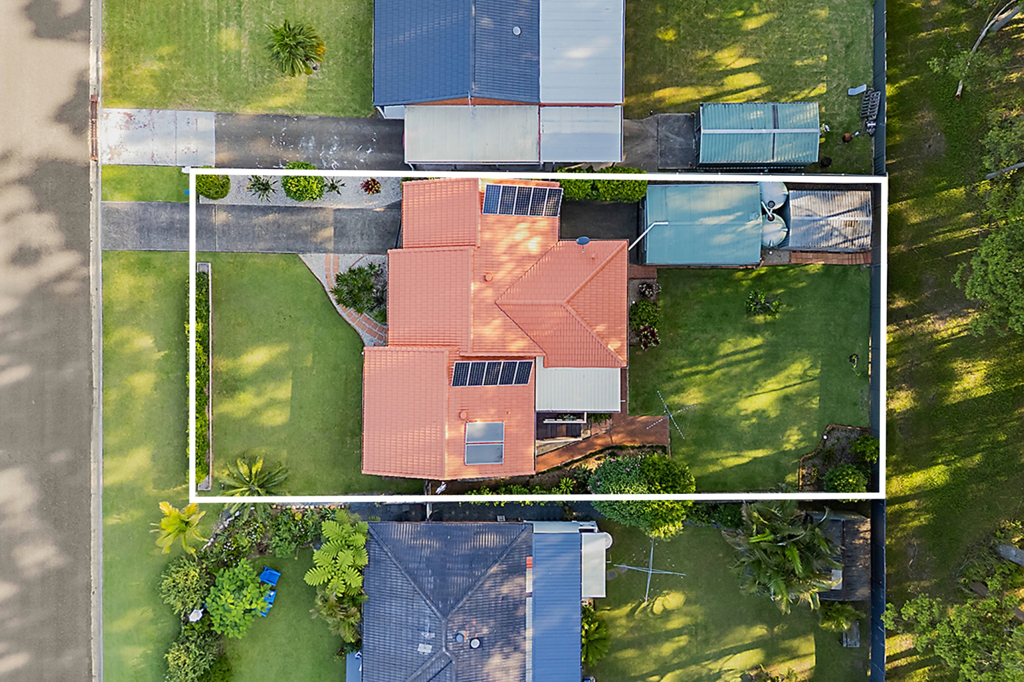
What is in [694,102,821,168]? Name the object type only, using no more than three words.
shed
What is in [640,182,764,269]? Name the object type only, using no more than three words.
shed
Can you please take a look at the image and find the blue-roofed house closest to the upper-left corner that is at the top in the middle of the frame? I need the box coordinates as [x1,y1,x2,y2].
[371,0,540,107]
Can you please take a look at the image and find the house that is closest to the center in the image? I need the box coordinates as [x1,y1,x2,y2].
[360,175,630,480]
